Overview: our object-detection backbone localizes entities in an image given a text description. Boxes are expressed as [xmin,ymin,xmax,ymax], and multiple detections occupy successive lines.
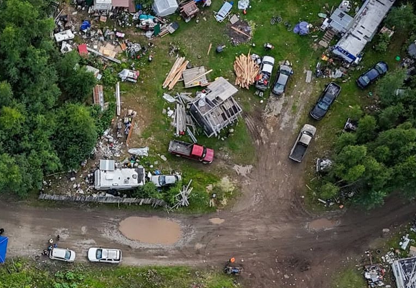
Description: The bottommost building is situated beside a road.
[186,78,242,141]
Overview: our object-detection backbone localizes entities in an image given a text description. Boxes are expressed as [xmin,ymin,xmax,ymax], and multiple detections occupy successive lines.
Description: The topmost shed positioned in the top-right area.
[322,9,350,38]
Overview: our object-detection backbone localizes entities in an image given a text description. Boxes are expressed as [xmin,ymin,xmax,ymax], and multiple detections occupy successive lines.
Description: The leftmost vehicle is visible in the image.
[48,245,75,264]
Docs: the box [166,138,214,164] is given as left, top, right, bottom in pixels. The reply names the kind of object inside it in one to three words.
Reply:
truck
